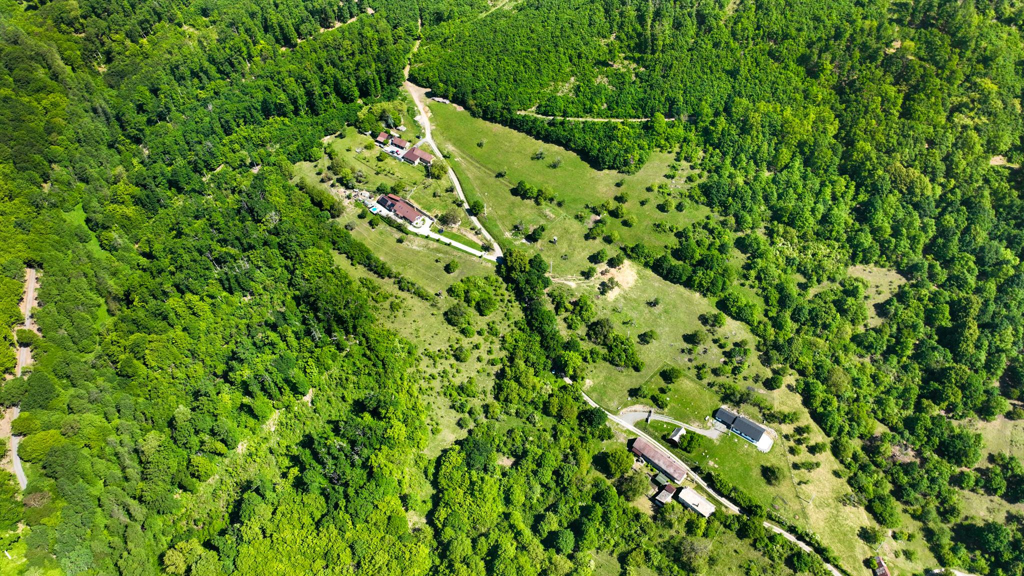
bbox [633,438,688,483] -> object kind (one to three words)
house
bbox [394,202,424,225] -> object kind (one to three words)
building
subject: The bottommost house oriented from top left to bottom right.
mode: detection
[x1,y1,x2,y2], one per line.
[679,487,714,520]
